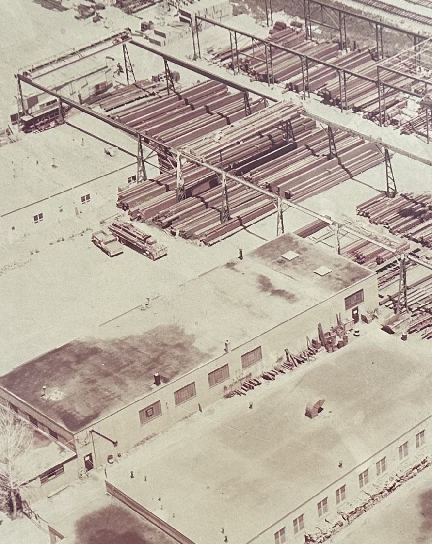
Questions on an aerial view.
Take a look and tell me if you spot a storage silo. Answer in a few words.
No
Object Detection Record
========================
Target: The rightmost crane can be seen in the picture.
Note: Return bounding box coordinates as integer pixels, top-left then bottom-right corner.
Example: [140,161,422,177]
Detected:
[175,94,303,162]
